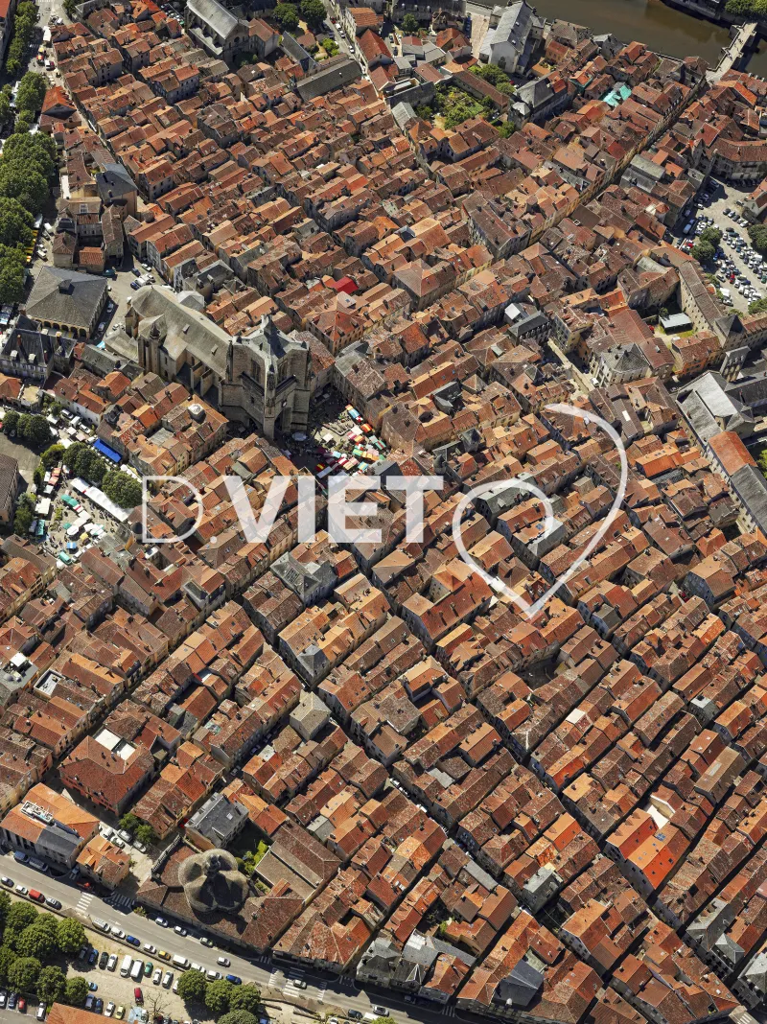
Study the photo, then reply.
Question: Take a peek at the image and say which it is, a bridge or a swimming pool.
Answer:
bridge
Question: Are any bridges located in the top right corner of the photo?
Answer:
Yes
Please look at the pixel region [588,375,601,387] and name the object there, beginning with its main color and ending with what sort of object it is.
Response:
white vehicle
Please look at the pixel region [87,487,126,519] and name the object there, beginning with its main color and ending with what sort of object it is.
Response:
white tent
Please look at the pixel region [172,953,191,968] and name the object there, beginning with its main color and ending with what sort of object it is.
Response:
white vehicle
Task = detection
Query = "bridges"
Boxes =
[708,20,758,88]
